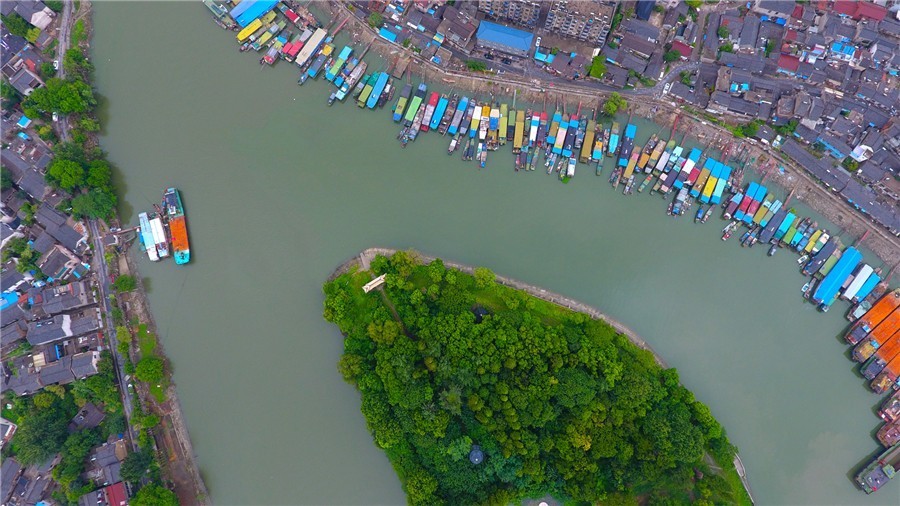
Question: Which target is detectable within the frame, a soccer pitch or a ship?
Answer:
ship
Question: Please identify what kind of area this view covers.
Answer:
residential area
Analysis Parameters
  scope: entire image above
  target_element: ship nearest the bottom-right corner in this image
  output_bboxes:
[855,444,900,491]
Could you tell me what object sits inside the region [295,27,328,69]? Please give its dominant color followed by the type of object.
white boat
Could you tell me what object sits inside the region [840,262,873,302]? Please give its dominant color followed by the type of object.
white boat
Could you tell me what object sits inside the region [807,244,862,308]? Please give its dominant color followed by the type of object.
blue boat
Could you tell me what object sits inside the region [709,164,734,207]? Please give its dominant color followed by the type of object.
blue boat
